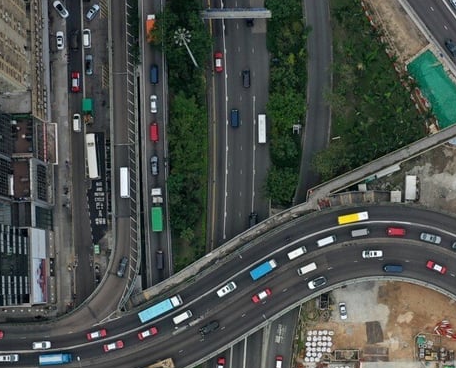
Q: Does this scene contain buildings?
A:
Yes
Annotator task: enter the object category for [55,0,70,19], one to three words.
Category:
car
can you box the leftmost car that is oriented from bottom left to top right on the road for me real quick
[85,3,101,23]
